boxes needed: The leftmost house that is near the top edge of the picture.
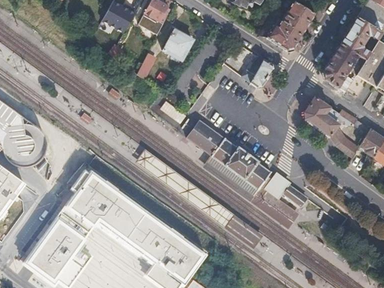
[102,0,136,34]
